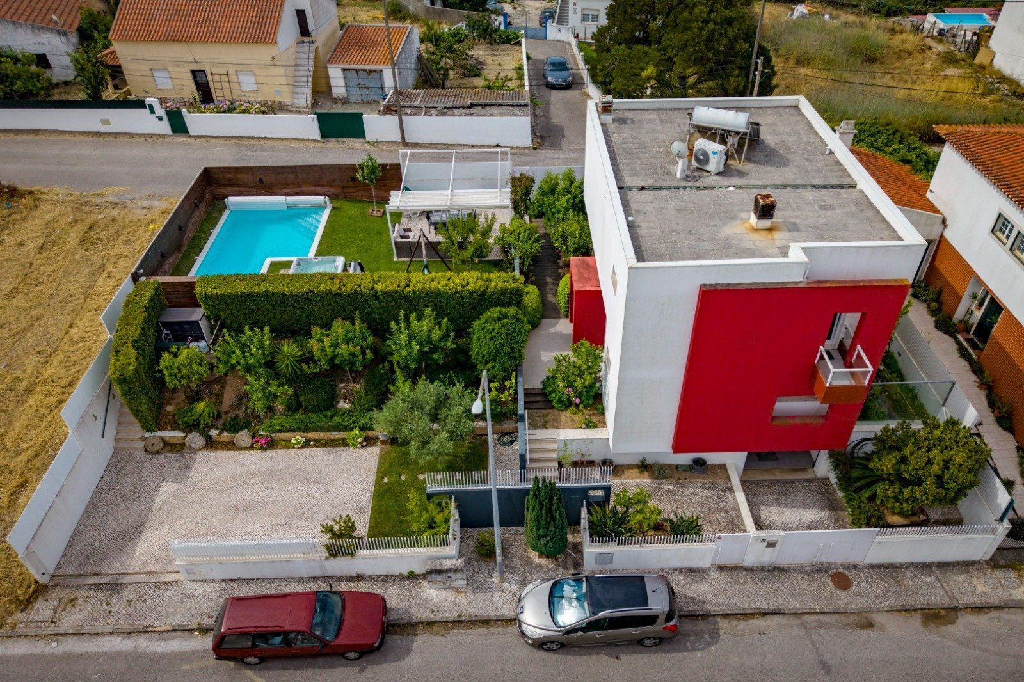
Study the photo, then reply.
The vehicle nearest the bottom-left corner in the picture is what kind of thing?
automobile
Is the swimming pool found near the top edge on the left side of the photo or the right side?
right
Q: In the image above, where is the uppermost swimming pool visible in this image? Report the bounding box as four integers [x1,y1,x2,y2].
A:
[924,12,993,42]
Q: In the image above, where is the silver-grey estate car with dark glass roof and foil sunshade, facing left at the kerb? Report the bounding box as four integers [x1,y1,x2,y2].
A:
[517,574,682,656]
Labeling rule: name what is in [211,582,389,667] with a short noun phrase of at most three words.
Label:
car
